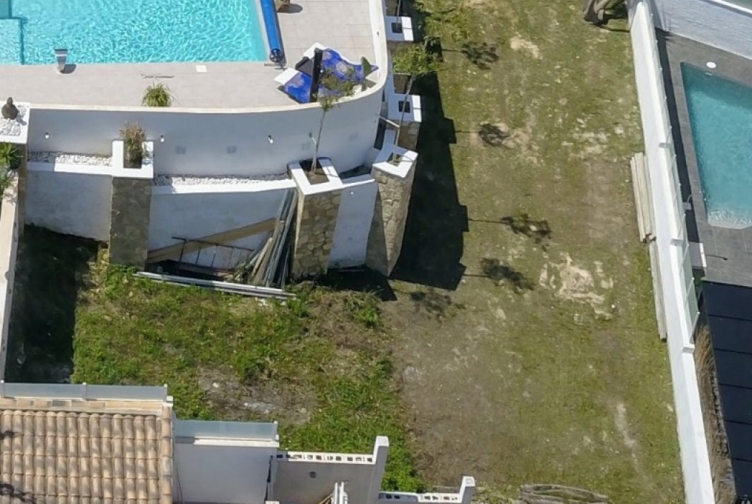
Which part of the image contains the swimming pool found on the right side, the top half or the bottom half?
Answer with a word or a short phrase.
top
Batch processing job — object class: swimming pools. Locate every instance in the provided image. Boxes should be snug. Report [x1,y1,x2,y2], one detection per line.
[0,0,263,65]
[683,64,752,231]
